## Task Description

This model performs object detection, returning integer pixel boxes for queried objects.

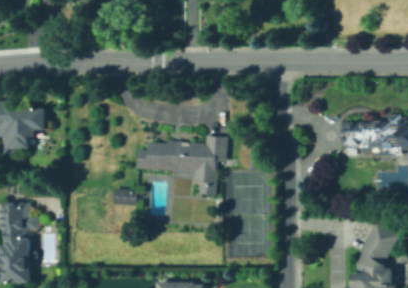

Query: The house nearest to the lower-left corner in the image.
[0,203,38,284]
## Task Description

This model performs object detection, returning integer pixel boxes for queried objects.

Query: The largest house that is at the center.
[138,135,226,196]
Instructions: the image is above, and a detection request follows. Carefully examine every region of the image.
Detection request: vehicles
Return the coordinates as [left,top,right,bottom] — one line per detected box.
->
[352,240,362,248]
[324,116,335,126]
[214,120,219,132]
[306,164,314,176]
[219,114,225,128]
